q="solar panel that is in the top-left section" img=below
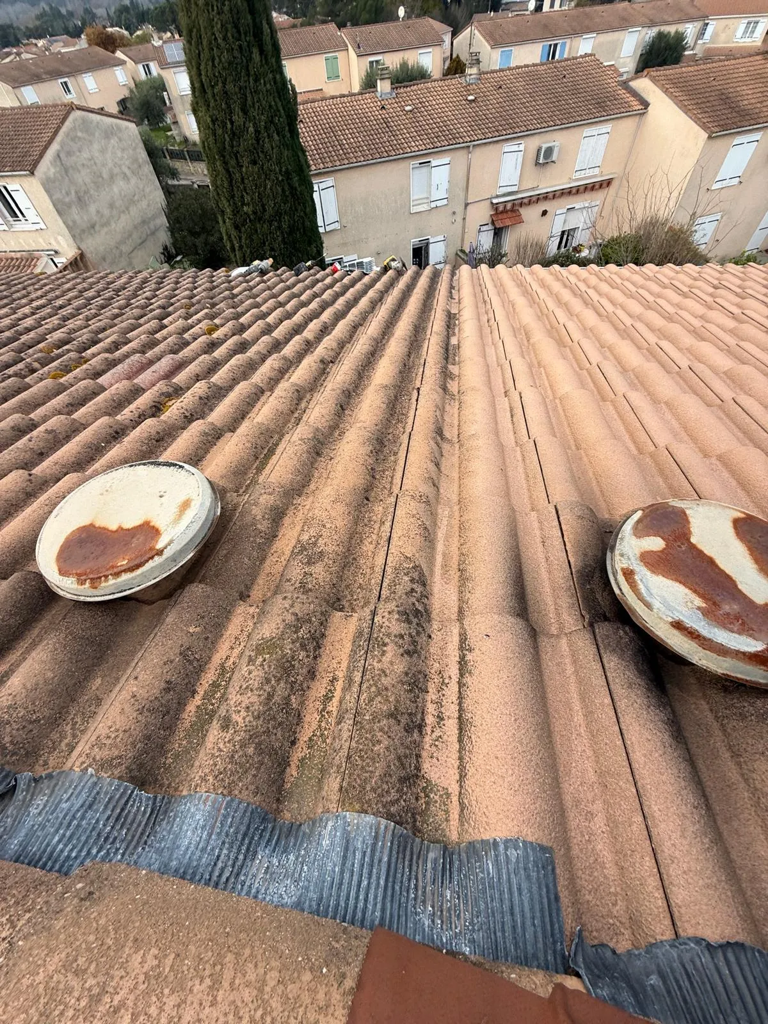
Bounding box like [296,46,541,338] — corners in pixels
[149,38,182,58]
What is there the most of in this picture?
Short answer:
buildings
